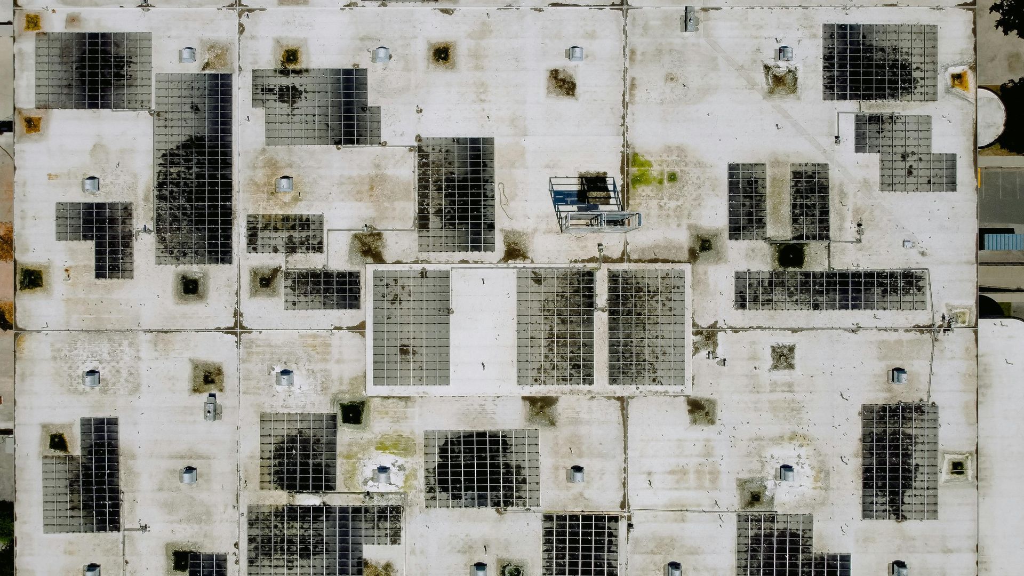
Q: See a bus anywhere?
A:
No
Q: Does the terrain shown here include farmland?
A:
No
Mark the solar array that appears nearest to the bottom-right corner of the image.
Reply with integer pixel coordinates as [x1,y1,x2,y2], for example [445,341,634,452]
[862,404,941,520]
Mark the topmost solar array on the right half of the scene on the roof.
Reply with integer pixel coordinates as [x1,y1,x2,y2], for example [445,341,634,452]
[822,22,940,101]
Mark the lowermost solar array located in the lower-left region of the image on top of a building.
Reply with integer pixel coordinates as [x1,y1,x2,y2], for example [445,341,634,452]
[188,552,228,576]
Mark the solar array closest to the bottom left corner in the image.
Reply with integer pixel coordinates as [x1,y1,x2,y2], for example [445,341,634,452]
[41,417,120,533]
